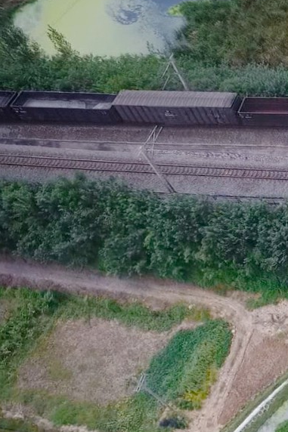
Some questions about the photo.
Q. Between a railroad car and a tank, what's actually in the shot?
railroad car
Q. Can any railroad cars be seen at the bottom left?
No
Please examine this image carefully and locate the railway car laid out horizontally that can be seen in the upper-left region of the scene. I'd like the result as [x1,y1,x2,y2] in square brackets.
[11,94,120,125]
